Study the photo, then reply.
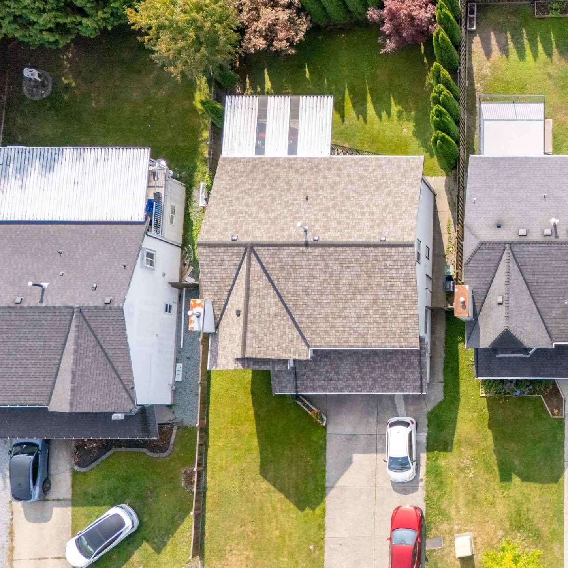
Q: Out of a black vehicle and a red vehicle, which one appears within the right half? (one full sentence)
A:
What appears within the right half is a red vehicle.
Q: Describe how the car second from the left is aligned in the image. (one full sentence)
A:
Seen from above, the car second from the left lies at an angle.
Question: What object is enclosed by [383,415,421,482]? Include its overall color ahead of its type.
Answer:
white car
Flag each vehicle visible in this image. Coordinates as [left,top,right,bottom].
[68,503,145,567]
[6,442,52,504]
[388,503,427,568]
[383,415,421,482]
